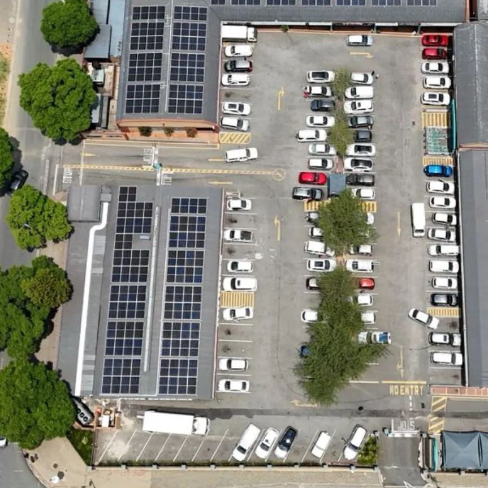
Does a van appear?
Yes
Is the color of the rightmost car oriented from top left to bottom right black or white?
white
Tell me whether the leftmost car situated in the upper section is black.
Yes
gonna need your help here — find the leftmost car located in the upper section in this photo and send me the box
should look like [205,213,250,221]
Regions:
[4,167,27,195]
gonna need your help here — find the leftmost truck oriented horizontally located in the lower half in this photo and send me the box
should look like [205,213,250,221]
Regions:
[138,415,211,437]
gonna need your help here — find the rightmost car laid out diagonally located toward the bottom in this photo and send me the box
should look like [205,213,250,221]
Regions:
[407,306,440,331]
